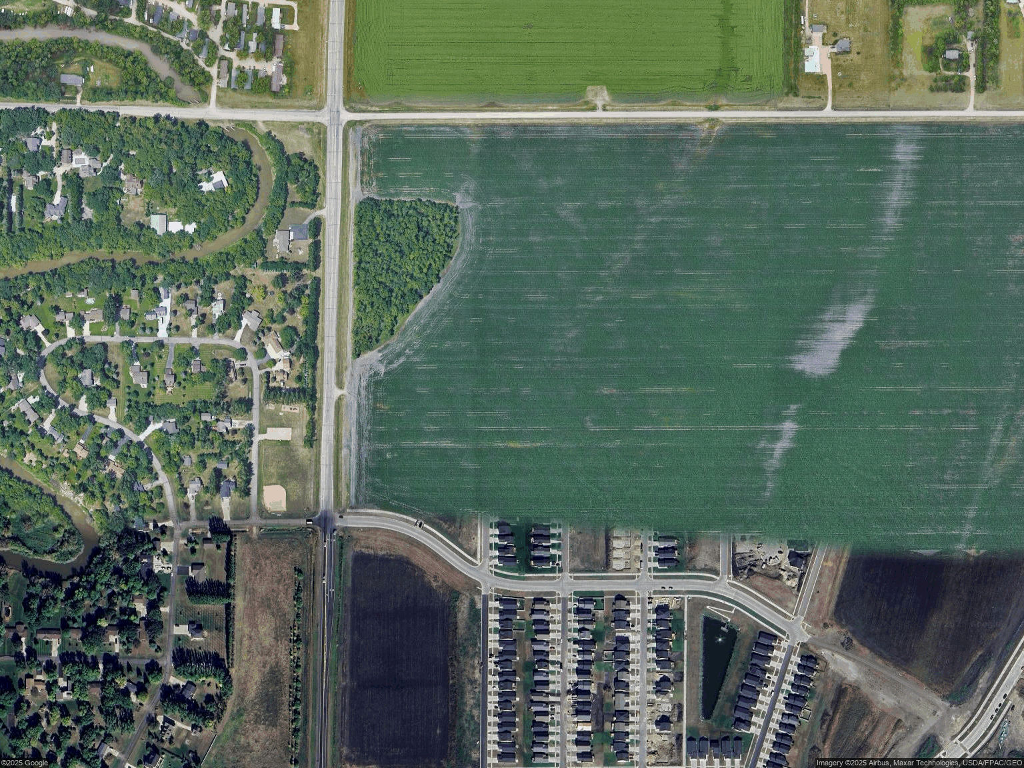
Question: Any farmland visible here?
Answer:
Yes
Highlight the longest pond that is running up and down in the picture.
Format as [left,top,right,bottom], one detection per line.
[702,614,737,721]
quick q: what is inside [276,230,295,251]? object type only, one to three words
house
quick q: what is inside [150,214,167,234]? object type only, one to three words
building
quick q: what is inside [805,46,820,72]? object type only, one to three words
building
